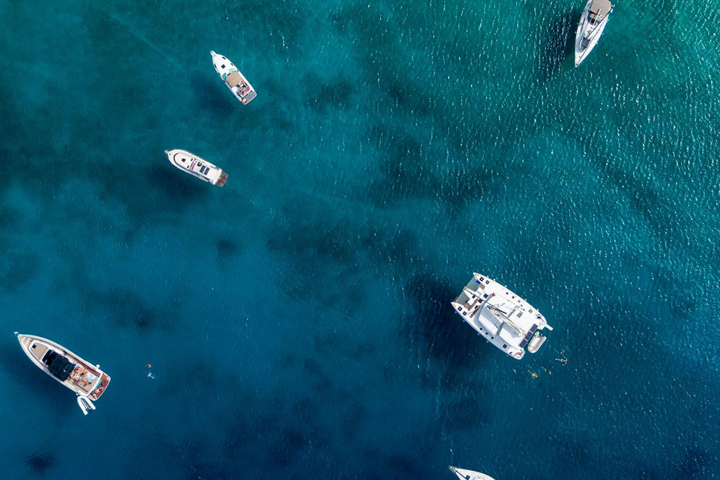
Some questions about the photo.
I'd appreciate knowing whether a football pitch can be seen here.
No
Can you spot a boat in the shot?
Yes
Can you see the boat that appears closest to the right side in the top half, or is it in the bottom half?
top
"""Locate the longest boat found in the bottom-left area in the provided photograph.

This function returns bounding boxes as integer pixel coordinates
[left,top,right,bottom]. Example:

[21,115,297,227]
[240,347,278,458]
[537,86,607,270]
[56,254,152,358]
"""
[13,333,110,397]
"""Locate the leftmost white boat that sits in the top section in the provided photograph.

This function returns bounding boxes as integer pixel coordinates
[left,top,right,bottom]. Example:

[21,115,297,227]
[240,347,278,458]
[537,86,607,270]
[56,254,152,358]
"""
[163,148,227,186]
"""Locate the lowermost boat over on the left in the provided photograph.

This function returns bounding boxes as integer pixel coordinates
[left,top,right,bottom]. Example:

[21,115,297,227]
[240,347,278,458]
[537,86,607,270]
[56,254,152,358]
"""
[77,394,95,415]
